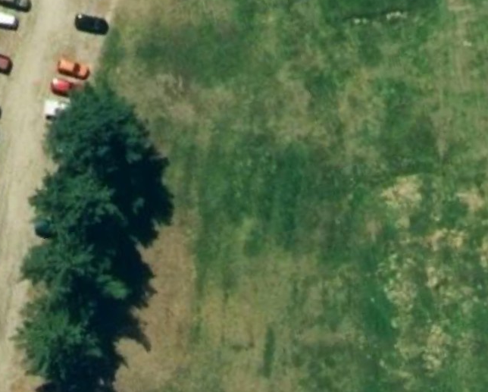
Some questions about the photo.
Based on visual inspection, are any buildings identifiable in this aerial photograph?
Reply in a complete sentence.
No, no building is visible in the view.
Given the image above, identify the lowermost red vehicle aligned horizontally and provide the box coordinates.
[49,76,82,95]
